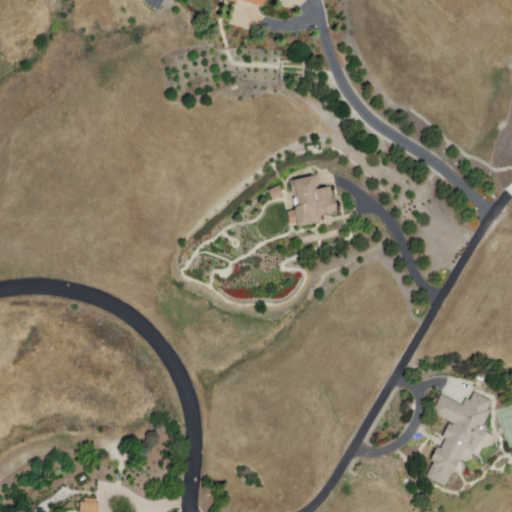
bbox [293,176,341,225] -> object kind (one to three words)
house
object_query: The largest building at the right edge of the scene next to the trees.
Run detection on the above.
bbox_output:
[428,392,498,488]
